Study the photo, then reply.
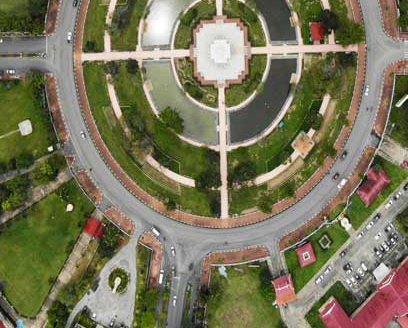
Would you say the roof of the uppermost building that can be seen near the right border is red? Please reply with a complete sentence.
Yes, the roof of the uppermost building that can be seen near the right border appears red.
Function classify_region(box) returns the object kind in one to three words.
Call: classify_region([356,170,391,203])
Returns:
building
